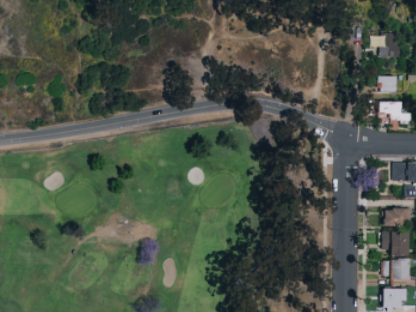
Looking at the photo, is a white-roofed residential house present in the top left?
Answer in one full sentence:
No, no white-roofed residential house appears in the top left.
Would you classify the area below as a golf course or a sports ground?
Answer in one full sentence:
This looks like a golf course.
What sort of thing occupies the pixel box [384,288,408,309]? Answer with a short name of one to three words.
house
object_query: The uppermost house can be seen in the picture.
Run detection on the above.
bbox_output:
[366,30,400,56]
